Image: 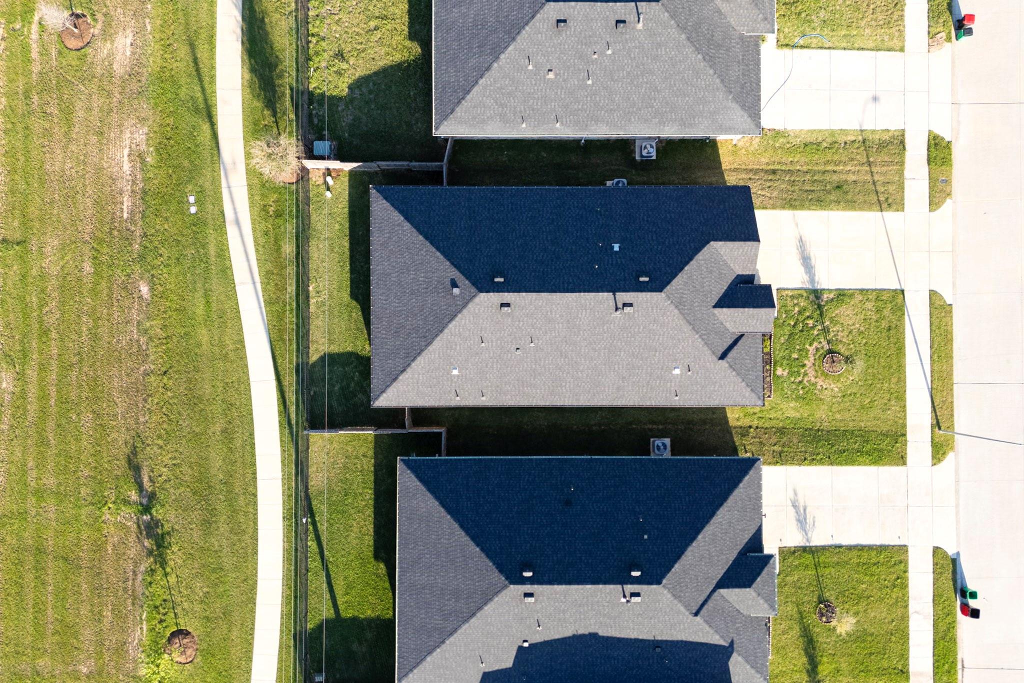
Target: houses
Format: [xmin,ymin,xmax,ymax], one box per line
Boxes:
[398,457,779,683]
[370,186,776,407]
[433,0,775,146]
